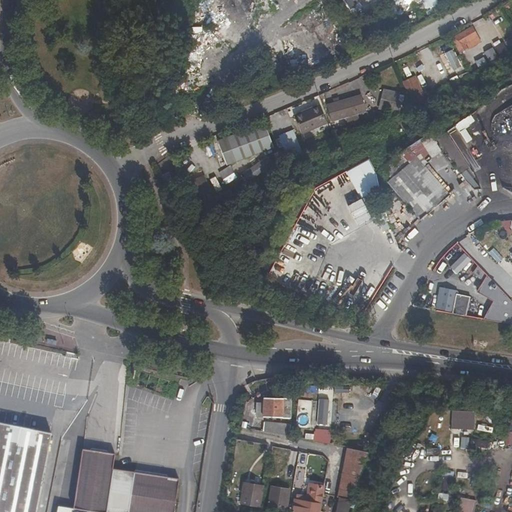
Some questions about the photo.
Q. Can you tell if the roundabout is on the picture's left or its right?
left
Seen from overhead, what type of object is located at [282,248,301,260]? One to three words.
vehicle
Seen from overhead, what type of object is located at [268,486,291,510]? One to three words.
house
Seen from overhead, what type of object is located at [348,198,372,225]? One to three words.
building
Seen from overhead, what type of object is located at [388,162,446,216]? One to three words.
building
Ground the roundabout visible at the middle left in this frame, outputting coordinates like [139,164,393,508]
[0,120,133,314]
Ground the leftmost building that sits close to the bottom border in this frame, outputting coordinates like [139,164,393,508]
[0,424,52,512]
